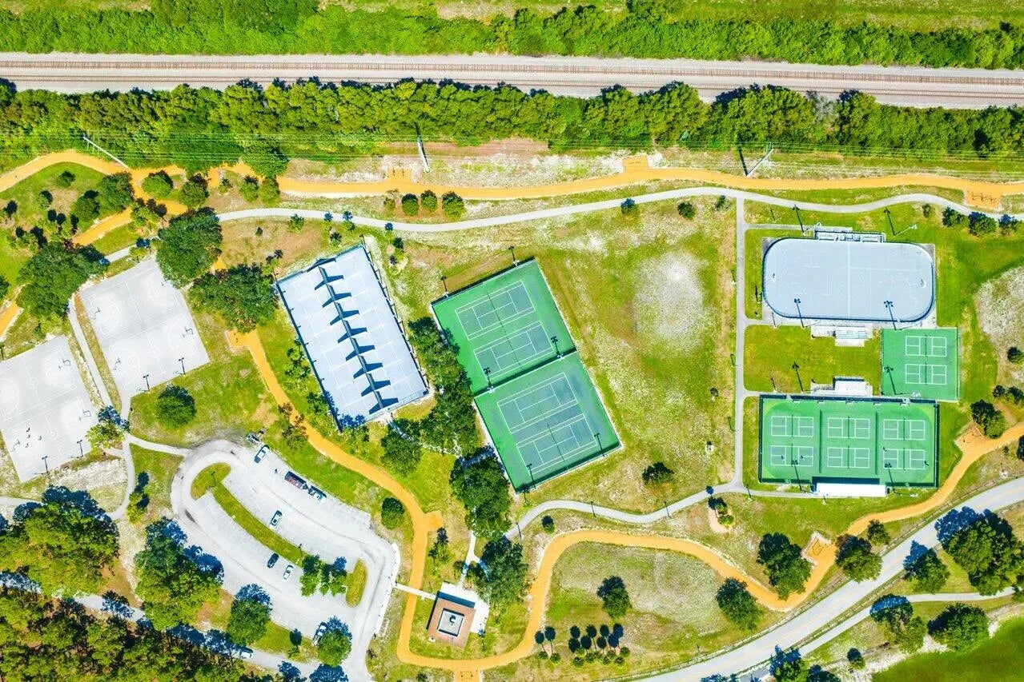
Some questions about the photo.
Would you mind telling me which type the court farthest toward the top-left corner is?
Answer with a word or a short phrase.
basketball court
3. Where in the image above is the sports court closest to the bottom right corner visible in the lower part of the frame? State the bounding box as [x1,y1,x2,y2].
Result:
[876,442,939,487]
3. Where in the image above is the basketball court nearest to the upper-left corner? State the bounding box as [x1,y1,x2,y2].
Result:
[81,257,183,345]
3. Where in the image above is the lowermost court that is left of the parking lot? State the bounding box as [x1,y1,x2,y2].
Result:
[0,391,105,483]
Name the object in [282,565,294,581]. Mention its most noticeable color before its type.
white vehicle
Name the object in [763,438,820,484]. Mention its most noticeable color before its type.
green sports court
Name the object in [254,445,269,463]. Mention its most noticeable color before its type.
white vehicle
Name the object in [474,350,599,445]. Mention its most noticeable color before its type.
green tennis court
